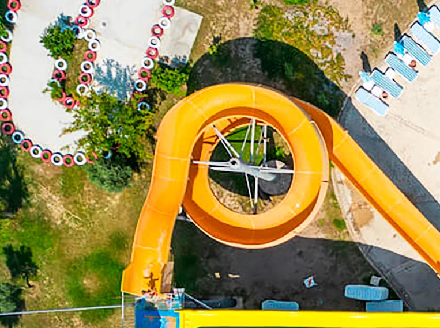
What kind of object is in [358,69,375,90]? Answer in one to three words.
umbrella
